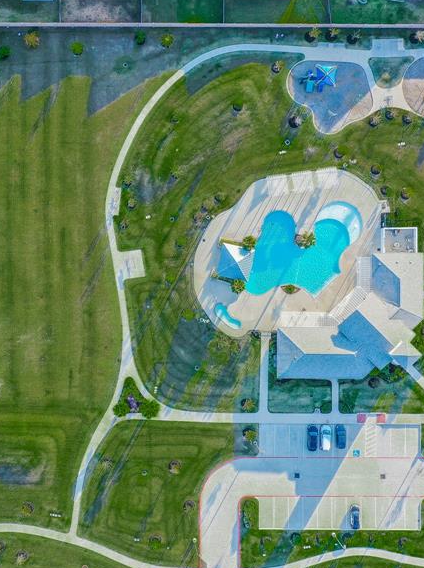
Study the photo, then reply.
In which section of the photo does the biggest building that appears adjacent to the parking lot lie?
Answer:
right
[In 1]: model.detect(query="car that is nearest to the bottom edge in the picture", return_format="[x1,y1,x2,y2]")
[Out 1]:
[349,505,363,532]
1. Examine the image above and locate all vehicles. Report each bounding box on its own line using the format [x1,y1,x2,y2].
[335,424,348,451]
[321,425,334,453]
[349,505,363,532]
[307,426,320,452]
